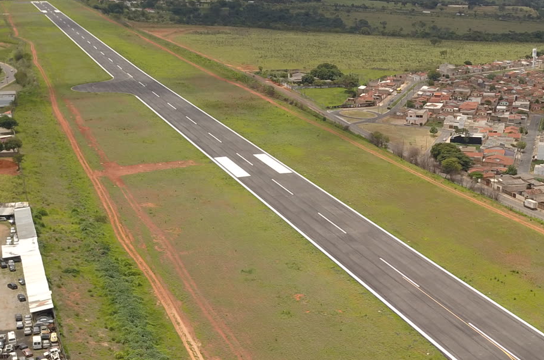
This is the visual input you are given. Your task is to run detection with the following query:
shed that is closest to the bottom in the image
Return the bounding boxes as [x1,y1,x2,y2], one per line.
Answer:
[21,255,54,320]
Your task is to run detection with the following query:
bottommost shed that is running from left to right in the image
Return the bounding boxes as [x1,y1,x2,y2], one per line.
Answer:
[1,237,39,259]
